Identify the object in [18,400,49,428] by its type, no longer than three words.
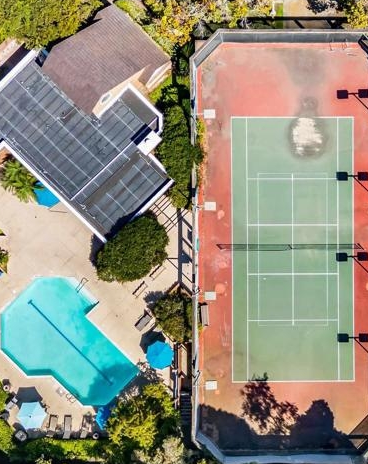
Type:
umbrella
